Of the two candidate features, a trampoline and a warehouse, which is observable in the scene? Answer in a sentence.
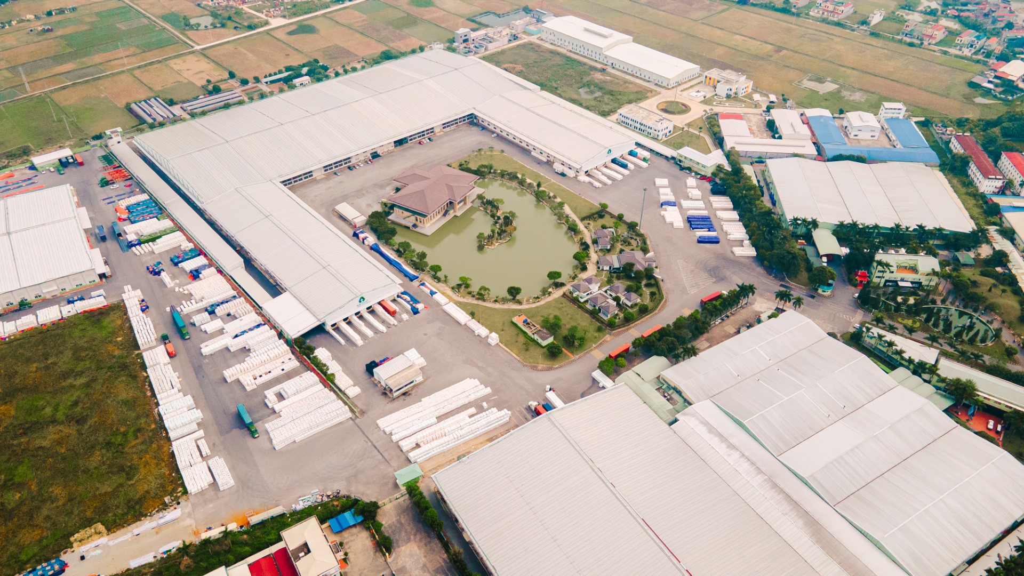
The one in the frame is a warehouse.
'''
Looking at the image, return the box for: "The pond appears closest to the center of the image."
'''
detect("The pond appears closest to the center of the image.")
[394,178,577,297]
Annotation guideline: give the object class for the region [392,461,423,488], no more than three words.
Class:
shed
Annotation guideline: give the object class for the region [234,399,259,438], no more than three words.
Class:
truck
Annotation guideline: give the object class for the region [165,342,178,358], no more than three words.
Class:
vehicle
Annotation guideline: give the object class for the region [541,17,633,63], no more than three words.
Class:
building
